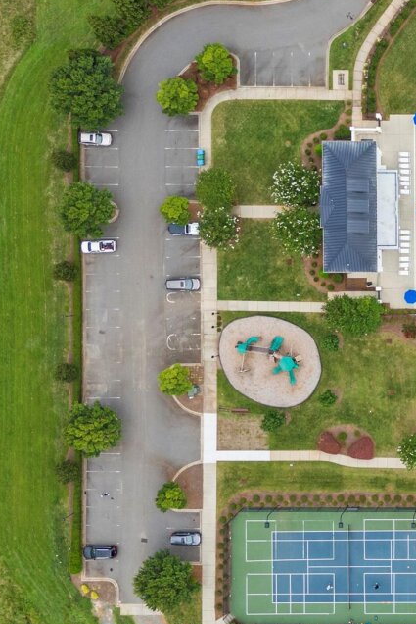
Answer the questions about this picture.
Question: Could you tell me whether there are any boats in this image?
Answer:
No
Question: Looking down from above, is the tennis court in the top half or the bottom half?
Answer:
bottom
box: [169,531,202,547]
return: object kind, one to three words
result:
car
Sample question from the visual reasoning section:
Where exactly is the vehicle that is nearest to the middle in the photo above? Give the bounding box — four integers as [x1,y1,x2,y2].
[165,276,201,292]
